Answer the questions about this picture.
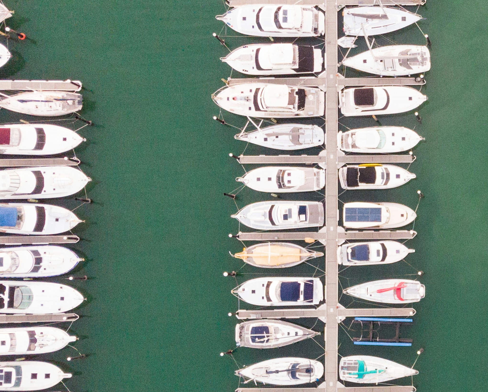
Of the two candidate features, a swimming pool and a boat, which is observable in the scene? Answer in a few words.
boat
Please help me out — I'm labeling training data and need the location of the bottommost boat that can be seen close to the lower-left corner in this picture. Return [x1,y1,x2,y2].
[0,360,77,391]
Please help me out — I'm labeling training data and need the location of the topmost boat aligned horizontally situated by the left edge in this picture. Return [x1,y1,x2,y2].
[0,90,86,116]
